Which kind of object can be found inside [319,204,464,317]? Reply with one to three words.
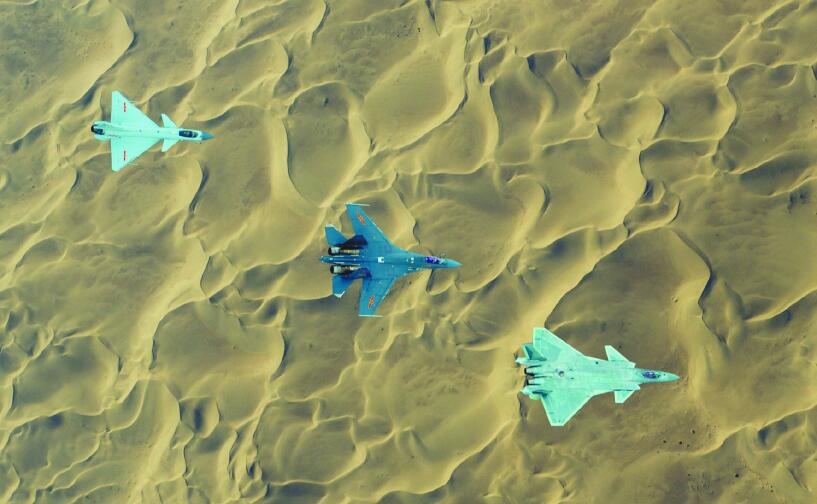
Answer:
airplane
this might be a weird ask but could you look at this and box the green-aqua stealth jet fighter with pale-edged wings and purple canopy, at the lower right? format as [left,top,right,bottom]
[515,328,678,425]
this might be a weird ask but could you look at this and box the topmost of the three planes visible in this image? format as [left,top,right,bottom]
[89,93,219,169]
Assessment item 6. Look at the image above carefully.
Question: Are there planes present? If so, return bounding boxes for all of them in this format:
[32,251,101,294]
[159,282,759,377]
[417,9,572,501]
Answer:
[515,328,678,425]
[89,93,219,169]
[319,204,464,317]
